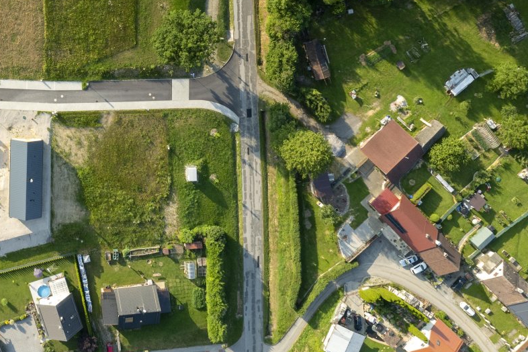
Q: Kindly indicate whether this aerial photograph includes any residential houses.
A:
Yes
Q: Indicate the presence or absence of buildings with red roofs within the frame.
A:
Yes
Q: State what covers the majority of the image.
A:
grass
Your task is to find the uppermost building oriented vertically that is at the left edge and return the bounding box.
[7,138,43,221]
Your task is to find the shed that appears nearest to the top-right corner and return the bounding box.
[444,71,474,96]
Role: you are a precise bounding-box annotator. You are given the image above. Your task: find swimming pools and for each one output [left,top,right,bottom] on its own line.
[38,286,51,299]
